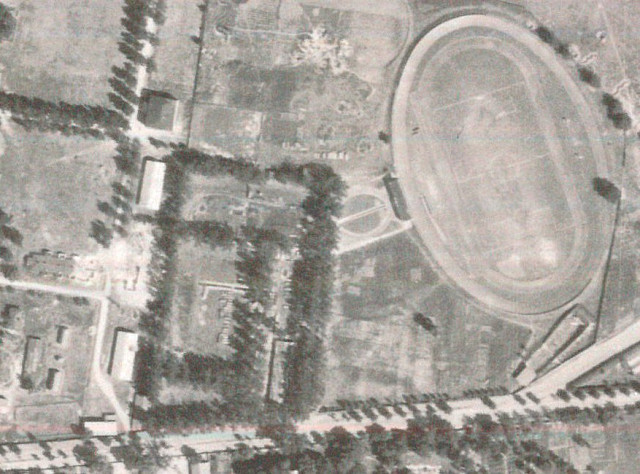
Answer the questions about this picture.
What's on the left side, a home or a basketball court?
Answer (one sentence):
Looking on the left side, you will find a home.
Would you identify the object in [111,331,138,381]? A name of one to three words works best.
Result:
building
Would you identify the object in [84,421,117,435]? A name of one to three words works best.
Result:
shed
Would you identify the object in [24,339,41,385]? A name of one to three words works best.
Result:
barn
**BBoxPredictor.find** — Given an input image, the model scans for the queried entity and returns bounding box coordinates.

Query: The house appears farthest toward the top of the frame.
[139,95,176,130]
